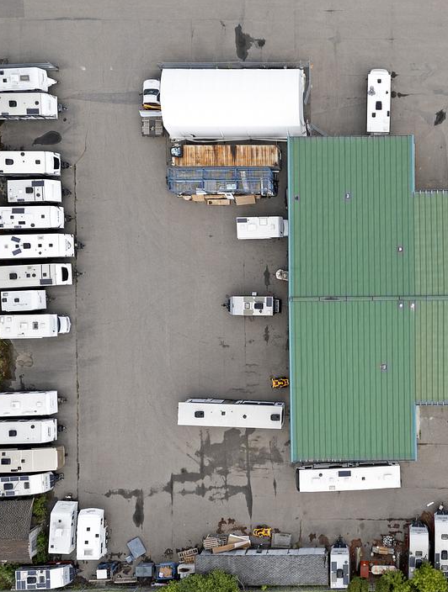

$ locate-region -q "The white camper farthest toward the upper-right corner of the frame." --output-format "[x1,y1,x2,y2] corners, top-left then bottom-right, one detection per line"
[366,70,390,135]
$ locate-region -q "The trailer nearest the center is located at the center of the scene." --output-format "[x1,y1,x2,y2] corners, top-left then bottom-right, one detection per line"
[223,291,282,315]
